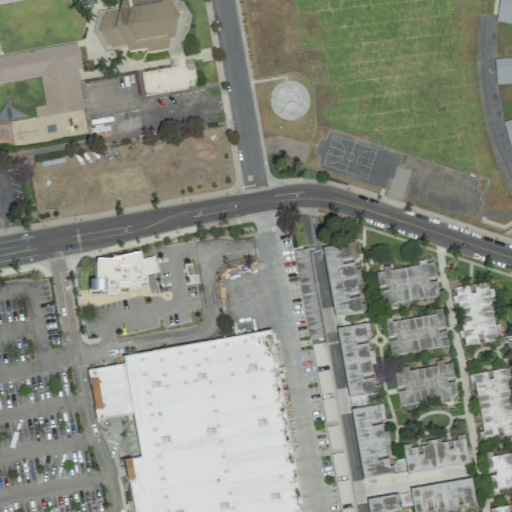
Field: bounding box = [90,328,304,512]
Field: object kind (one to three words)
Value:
warehouse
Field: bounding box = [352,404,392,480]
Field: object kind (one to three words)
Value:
building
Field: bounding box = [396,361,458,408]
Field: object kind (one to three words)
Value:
building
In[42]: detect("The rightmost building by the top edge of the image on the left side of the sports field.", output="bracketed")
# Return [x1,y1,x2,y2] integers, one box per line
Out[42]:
[95,0,192,54]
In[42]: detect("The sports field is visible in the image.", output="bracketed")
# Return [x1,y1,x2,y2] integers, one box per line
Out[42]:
[298,0,503,178]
